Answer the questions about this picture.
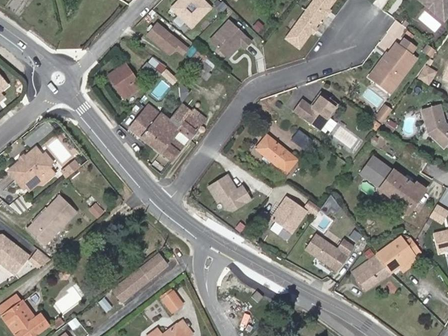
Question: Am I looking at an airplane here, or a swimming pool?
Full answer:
The image shows a swimming pool.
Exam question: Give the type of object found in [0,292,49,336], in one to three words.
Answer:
house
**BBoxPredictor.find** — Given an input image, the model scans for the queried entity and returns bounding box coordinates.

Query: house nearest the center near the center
[208,174,252,212]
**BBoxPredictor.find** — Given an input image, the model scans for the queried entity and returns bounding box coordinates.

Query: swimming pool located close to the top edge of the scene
[412,8,447,36]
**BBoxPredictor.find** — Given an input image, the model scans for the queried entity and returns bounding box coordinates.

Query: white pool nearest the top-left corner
[44,131,81,168]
